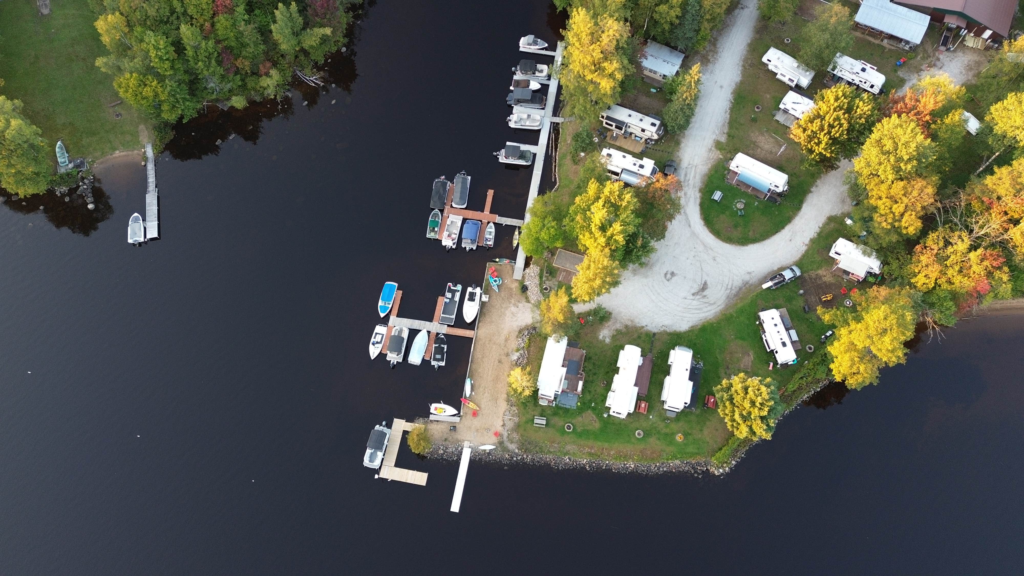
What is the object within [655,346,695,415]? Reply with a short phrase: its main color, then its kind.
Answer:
white vehicle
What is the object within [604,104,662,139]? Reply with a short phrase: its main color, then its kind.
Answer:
white vehicle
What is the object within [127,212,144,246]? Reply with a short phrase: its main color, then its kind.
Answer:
white boat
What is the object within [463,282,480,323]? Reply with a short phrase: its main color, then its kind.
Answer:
white boat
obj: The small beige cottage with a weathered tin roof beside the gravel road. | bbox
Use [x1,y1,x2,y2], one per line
[644,42,685,82]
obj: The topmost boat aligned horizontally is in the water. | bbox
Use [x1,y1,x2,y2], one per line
[517,36,548,50]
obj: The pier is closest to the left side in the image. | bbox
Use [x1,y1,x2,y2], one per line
[145,145,161,240]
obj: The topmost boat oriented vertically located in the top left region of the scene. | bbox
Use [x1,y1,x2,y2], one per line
[55,141,68,167]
